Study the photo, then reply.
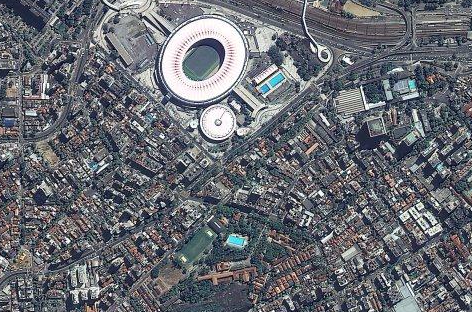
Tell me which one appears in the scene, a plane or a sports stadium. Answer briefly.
sports stadium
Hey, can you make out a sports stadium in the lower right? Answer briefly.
No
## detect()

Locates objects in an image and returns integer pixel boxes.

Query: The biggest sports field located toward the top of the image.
[183,40,224,80]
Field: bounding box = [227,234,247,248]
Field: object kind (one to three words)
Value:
swimming pool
